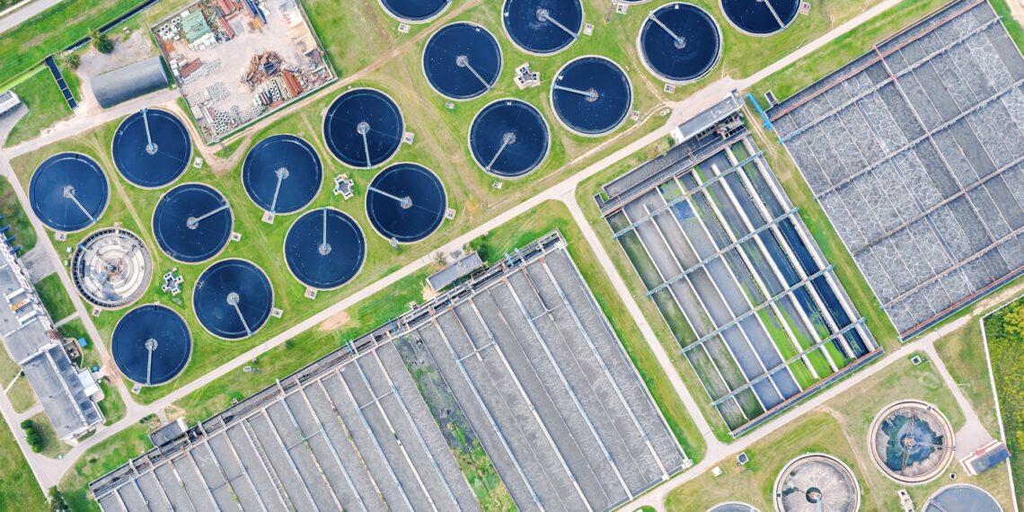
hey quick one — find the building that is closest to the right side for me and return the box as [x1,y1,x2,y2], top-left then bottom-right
[956,436,1011,475]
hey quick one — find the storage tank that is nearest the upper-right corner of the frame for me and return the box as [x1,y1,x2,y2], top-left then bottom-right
[719,0,801,36]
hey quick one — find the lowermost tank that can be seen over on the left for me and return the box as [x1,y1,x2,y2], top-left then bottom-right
[111,304,193,388]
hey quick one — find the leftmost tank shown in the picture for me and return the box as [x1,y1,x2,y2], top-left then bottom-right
[29,151,111,233]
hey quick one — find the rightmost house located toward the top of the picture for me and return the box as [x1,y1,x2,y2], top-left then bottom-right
[668,89,745,146]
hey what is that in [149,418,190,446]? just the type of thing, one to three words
building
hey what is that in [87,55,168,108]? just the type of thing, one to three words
building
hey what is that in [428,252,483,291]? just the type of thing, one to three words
house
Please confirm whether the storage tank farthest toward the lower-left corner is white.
No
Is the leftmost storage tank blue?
Yes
